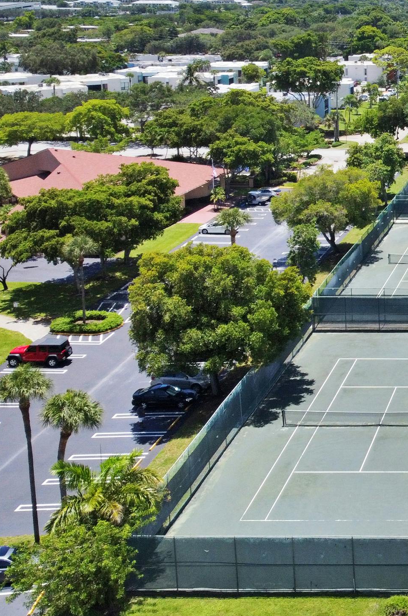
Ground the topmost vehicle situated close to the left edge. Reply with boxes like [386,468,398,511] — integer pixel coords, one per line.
[10,339,73,368]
